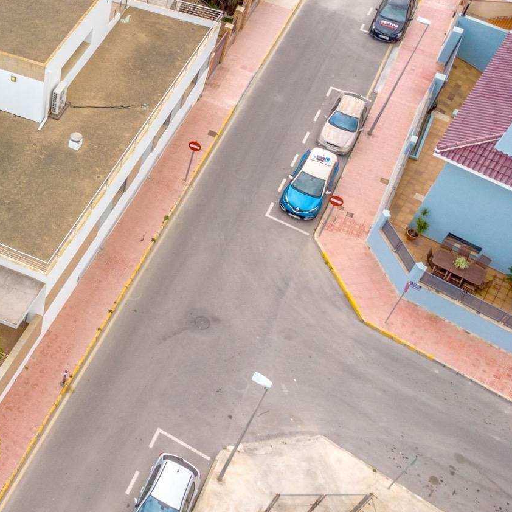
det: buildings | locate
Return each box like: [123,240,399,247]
[408,43,512,277]
[0,0,224,401]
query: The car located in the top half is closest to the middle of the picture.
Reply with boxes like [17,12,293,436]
[277,153,335,225]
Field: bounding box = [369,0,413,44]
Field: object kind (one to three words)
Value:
car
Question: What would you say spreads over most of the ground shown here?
paved ground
